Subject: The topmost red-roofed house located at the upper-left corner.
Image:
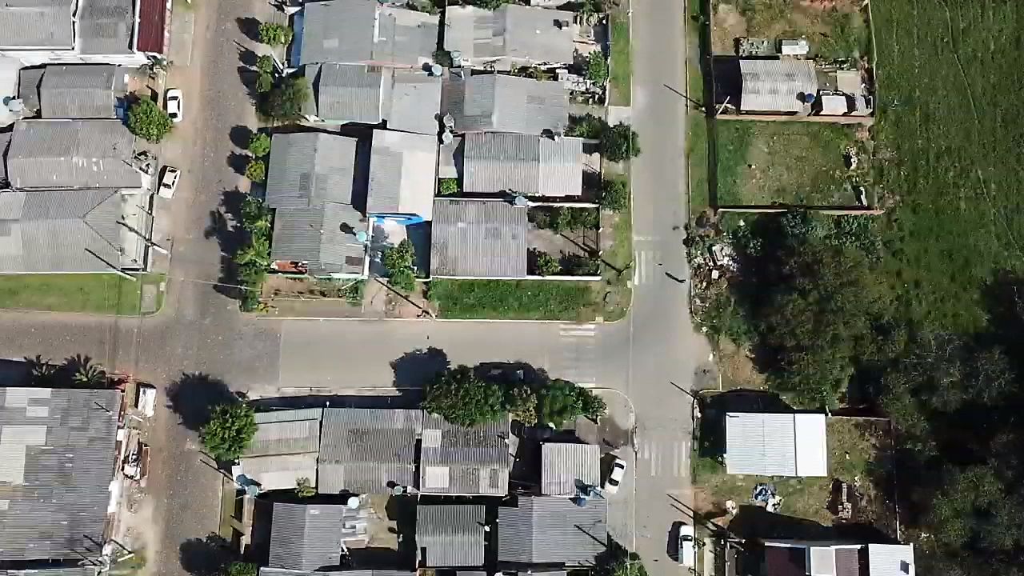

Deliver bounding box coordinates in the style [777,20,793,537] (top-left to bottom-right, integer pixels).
[136,0,168,60]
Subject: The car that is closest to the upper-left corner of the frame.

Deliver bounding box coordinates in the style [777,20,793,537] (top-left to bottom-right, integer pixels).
[165,91,183,122]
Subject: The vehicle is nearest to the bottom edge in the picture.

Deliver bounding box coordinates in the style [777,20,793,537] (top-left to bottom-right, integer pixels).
[677,524,696,568]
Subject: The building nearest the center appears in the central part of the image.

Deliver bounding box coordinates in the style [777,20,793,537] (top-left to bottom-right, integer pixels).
[430,199,528,279]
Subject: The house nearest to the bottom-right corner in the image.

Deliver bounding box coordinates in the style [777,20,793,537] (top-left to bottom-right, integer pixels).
[857,542,914,576]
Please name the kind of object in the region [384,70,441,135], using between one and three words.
house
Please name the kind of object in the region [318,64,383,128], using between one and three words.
house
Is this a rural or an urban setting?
urban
